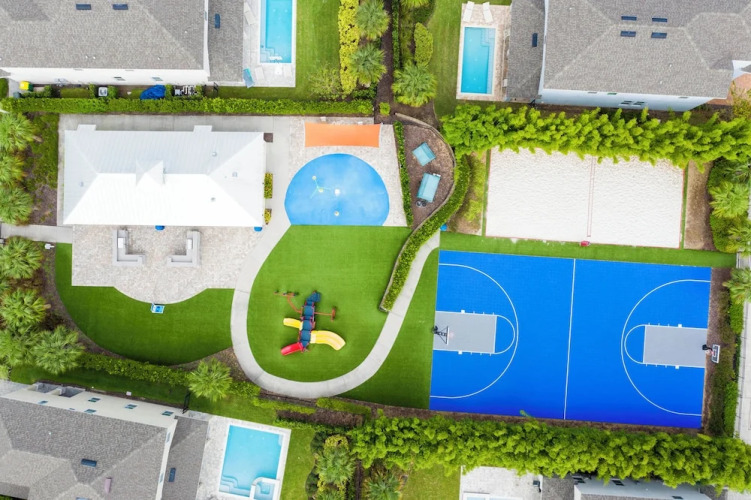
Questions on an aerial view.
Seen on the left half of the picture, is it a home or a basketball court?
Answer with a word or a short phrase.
home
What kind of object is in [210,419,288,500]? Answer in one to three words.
swimming pool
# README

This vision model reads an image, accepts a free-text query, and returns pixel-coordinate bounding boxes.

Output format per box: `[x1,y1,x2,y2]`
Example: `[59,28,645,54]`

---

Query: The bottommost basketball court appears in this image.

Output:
[431,251,711,430]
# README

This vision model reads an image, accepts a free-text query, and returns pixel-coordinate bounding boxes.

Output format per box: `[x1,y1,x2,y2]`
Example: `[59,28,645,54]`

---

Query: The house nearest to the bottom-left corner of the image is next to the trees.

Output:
[0,370,211,500]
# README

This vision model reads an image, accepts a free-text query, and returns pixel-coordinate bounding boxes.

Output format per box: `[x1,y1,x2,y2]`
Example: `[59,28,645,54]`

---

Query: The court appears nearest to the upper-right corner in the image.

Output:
[486,141,691,249]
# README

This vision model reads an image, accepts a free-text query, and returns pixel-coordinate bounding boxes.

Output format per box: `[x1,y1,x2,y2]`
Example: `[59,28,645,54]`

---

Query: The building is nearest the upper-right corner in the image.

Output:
[502,0,751,109]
